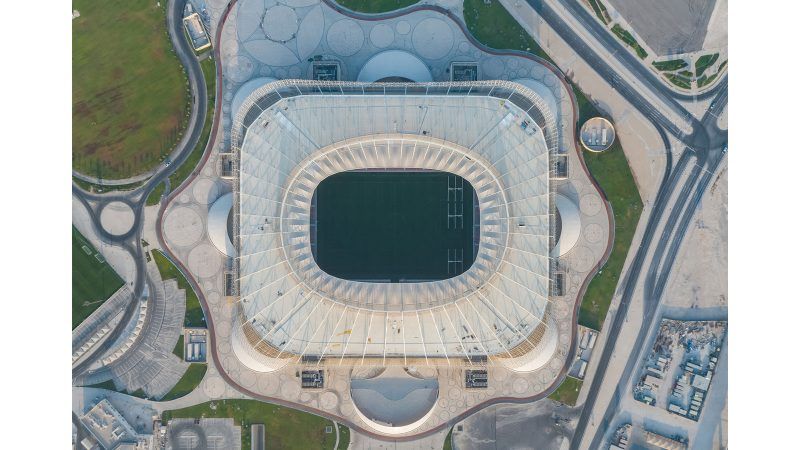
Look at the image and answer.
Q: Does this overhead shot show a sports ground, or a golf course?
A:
sports ground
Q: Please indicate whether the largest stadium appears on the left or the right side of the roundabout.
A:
to the right of it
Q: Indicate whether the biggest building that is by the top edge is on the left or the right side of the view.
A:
left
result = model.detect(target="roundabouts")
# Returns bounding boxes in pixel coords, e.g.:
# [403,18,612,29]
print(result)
[91,193,142,243]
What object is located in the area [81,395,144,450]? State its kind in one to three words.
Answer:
building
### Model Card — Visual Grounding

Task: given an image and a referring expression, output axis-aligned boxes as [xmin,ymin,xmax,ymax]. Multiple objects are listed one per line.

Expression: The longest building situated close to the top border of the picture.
[180,10,211,51]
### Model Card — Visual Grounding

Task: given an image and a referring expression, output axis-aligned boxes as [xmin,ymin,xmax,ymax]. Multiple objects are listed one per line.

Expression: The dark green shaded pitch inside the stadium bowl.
[329,181,460,269]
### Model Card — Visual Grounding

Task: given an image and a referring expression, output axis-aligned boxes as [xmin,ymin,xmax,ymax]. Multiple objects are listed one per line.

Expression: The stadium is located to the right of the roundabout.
[207,49,582,434]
